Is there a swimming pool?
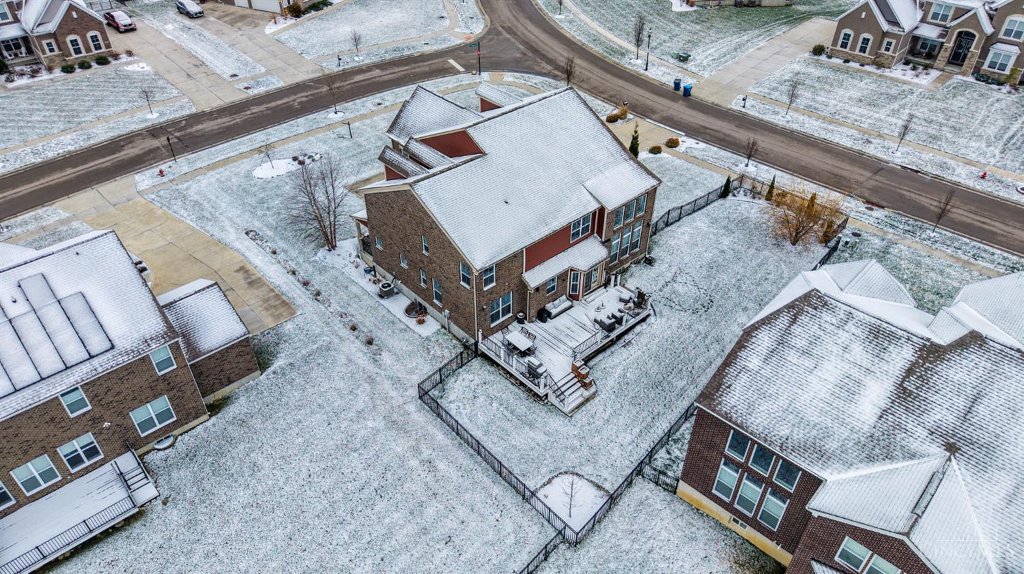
No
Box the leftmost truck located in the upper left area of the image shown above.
[102,8,135,31]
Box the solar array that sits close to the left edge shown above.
[0,271,113,397]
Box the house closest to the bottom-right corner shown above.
[673,259,1024,574]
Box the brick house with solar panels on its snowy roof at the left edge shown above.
[0,227,262,512]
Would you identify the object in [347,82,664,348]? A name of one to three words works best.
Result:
house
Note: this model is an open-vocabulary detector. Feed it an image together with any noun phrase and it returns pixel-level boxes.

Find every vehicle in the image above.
[102,8,135,31]
[177,0,202,16]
